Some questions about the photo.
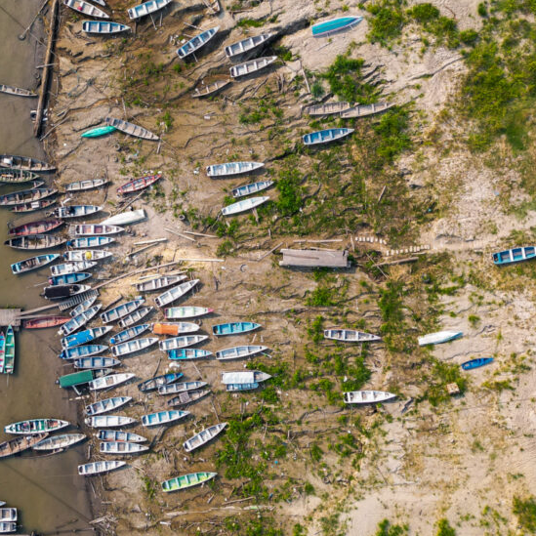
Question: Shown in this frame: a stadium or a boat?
boat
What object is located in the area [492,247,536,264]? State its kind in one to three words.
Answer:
boat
